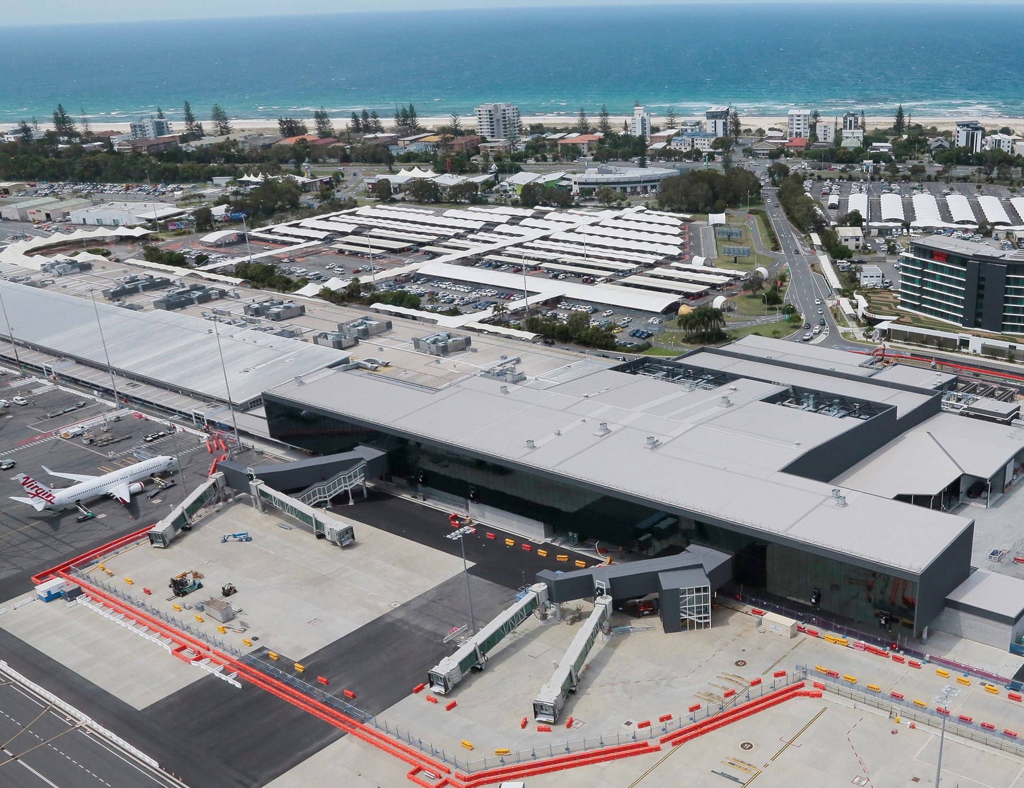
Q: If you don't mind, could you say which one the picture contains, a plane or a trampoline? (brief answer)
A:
plane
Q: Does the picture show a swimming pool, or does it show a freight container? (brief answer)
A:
freight container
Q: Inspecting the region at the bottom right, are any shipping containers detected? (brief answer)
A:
Yes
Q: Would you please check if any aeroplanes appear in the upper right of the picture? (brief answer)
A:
No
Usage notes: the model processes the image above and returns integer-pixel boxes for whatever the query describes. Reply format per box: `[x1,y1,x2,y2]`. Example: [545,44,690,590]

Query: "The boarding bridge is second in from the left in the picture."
[247,469,358,546]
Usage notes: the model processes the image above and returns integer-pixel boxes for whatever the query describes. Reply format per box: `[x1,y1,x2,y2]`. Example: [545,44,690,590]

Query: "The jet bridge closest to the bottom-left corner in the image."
[146,472,231,546]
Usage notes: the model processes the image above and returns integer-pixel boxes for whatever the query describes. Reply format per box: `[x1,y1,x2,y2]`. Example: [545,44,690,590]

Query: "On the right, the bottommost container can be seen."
[762,614,797,639]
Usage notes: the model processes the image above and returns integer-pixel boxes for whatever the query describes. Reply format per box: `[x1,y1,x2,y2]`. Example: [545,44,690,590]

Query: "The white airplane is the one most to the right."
[16,458,177,511]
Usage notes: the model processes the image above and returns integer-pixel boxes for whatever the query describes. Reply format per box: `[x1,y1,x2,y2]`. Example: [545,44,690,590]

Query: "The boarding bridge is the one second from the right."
[426,582,551,693]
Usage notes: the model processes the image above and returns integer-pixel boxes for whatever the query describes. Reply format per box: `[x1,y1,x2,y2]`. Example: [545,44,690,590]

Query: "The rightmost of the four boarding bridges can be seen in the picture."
[532,582,616,721]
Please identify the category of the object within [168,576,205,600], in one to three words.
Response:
work vehicle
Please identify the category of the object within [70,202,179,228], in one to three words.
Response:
hangar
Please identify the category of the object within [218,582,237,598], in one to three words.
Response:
work vehicle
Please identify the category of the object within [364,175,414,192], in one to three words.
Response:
building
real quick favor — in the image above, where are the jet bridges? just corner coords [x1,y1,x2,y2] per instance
[146,472,231,546]
[426,582,551,693]
[247,469,358,546]
[532,582,616,721]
